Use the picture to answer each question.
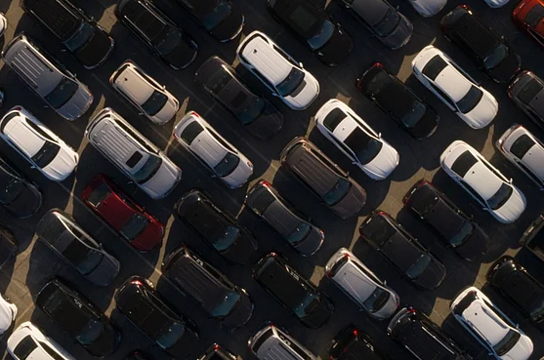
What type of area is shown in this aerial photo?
parking lot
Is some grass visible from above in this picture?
No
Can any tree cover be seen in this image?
No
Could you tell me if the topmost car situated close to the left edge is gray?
No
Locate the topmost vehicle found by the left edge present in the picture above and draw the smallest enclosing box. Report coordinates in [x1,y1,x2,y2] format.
[18,0,115,66]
